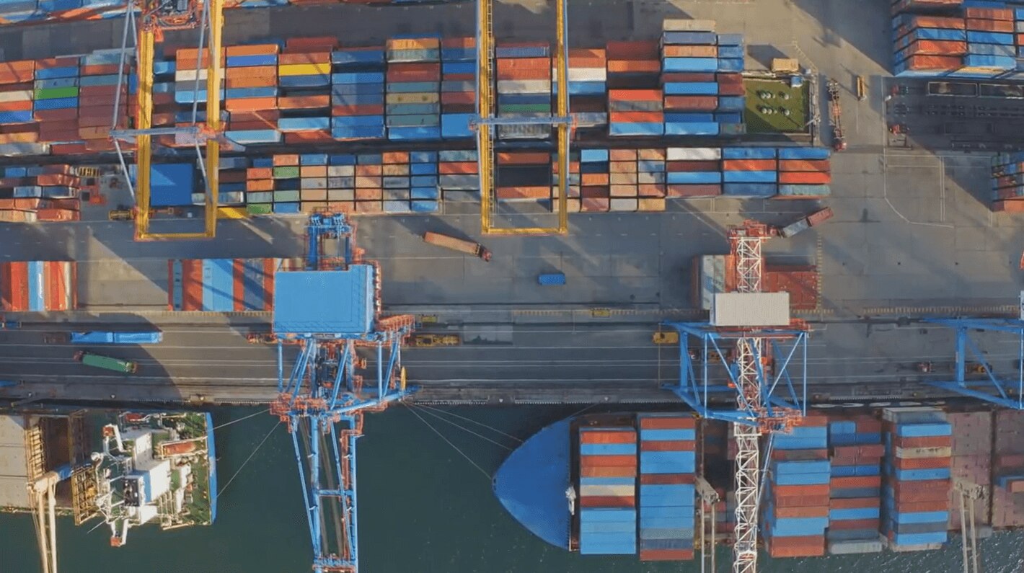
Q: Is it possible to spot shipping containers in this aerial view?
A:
Yes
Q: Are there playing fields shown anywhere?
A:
No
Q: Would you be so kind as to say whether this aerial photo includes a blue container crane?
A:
Yes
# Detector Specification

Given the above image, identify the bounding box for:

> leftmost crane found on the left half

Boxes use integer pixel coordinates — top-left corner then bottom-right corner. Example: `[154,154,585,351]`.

[26,463,97,573]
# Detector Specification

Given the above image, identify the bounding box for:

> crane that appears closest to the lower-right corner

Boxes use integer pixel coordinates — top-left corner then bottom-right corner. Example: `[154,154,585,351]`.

[954,472,1022,573]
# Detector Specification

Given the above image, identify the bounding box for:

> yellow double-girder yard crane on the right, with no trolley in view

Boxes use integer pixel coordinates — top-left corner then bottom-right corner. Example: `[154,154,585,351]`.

[470,0,581,238]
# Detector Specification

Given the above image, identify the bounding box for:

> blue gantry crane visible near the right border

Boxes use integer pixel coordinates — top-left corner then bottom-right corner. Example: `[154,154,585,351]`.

[910,292,1024,421]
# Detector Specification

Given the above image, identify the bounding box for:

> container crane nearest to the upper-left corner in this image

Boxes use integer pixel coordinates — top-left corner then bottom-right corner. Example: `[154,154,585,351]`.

[104,0,265,243]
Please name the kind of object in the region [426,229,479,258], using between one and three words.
shipping container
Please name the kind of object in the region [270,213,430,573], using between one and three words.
container crane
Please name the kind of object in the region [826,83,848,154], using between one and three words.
truck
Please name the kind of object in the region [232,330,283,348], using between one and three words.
work vehicle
